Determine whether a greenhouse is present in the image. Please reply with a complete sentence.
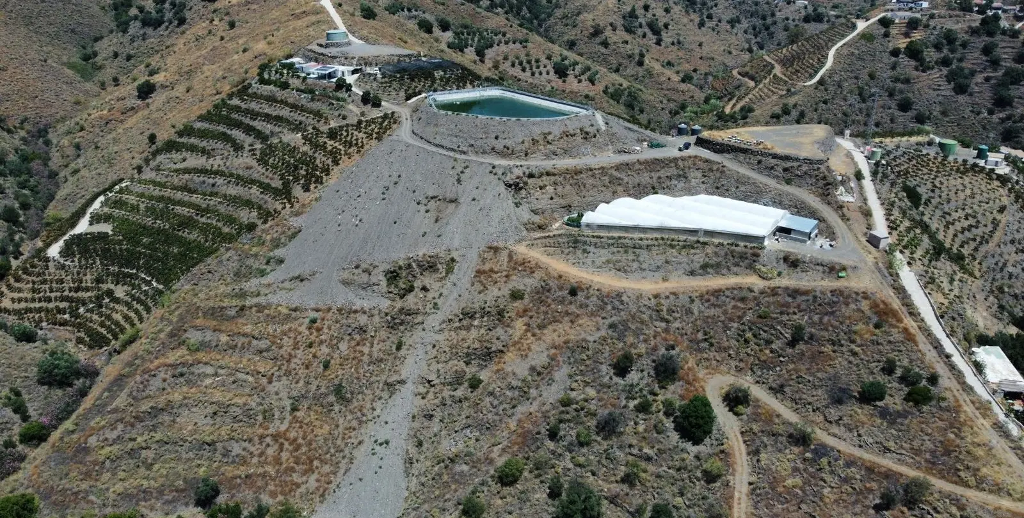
Yes, this view includes a greenhouse.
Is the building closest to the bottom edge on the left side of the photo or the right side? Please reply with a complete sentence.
The building closest to the bottom edge appears in the right half of the scene.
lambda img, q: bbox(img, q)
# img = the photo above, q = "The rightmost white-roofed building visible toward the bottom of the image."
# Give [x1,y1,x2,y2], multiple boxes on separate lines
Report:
[970,347,1024,397]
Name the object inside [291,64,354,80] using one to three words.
house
